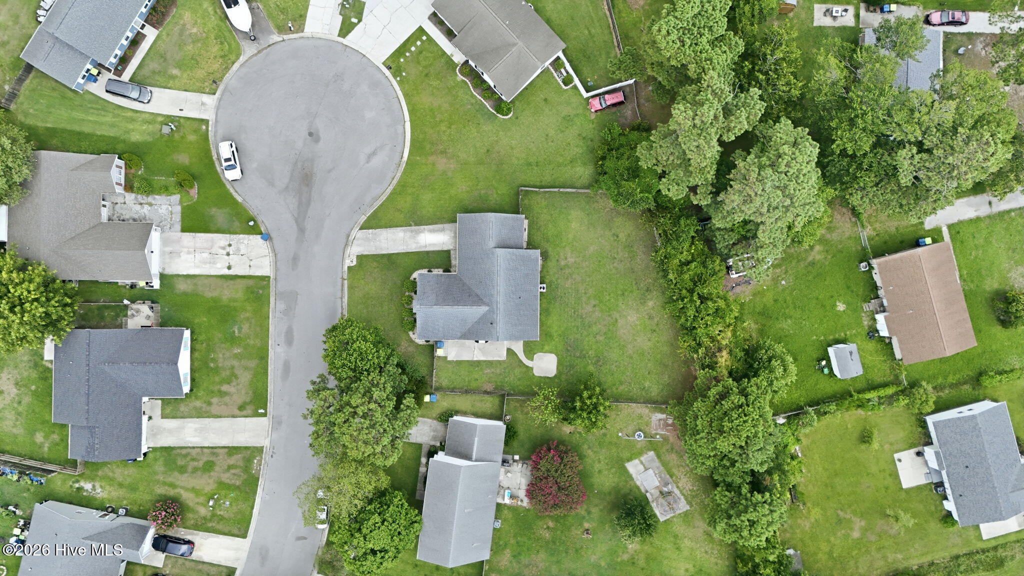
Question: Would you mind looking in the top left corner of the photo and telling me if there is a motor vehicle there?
Yes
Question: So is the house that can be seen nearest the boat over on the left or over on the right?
left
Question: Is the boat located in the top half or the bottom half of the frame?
top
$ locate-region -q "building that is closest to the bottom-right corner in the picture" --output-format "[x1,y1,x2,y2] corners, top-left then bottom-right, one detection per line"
[918,400,1024,527]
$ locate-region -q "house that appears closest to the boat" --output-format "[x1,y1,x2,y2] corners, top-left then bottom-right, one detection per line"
[20,0,158,91]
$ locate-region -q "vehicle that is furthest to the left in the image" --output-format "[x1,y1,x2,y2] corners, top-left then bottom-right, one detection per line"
[105,79,153,106]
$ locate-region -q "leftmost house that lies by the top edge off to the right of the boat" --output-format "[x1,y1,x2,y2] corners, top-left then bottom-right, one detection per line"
[425,0,566,104]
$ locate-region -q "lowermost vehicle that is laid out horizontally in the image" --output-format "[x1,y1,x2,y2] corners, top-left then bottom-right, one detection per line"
[151,532,197,558]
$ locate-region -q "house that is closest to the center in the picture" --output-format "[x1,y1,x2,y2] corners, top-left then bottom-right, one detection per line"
[414,212,541,343]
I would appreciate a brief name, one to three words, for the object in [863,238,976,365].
house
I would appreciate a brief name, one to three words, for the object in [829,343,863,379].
shed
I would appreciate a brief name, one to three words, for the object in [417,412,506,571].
house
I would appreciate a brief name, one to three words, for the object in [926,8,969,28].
car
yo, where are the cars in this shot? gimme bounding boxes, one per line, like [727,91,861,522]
[926,8,969,28]
[151,532,197,558]
[588,90,626,113]
[105,79,153,106]
[219,139,243,182]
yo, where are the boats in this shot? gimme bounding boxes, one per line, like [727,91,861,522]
[225,0,252,32]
